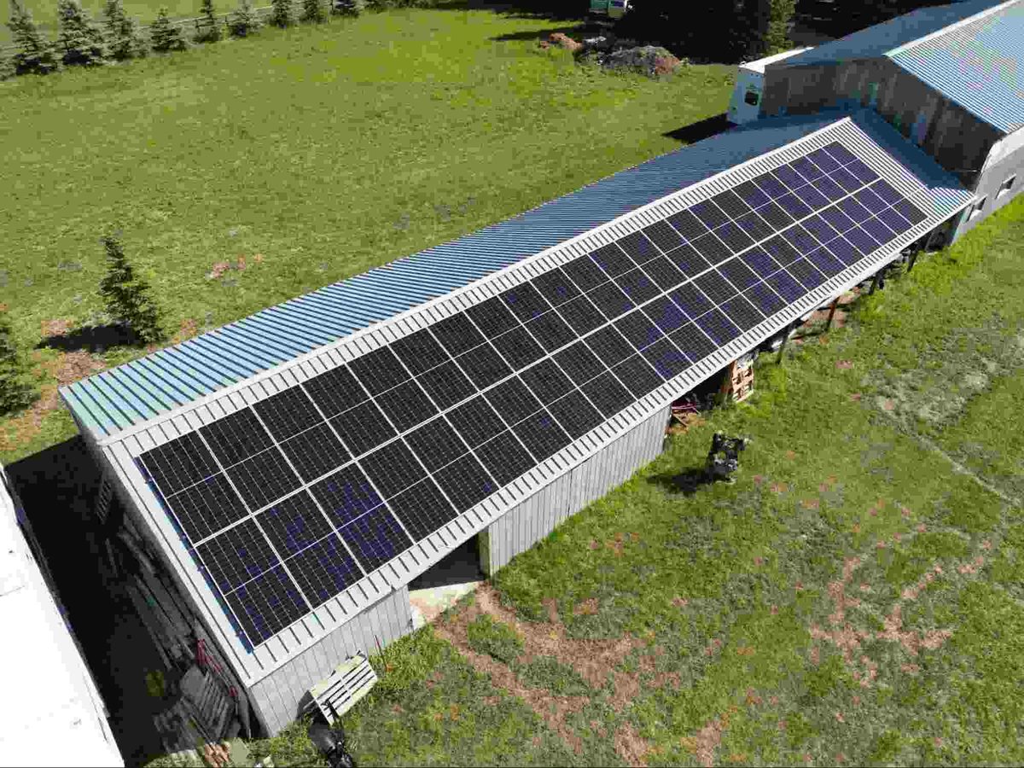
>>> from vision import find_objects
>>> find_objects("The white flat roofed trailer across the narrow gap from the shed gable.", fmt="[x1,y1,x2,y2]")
[0,483,130,768]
